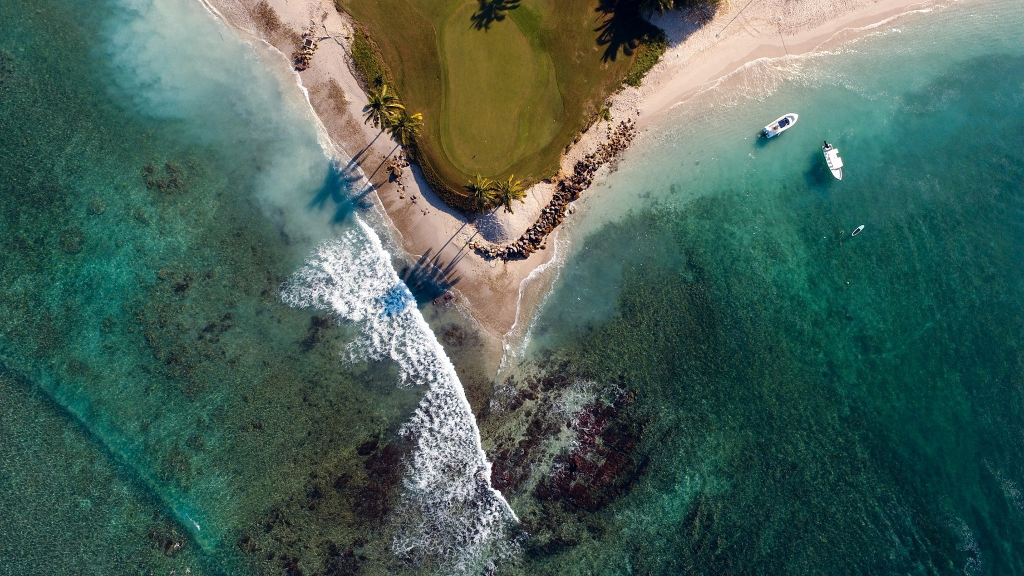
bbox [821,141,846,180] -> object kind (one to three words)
boat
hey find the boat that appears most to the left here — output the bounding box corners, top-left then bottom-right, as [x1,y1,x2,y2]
[762,113,800,139]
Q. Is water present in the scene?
Yes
